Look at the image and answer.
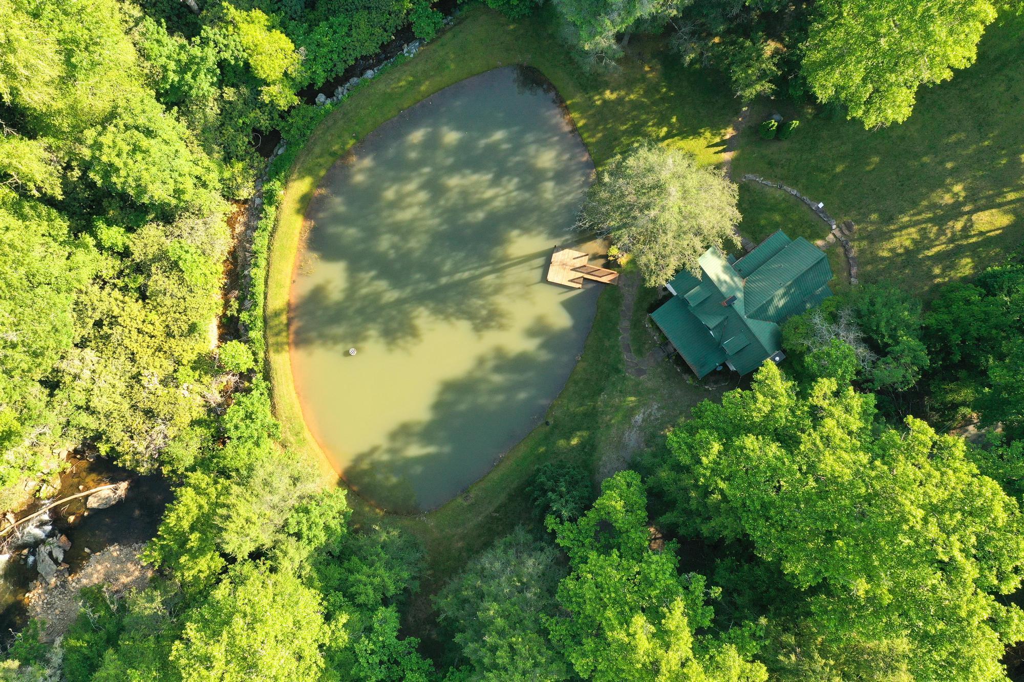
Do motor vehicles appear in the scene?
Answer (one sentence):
No, the picture doesn't show any motor vehicle.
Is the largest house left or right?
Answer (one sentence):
The largest house appears in the right half of the scene.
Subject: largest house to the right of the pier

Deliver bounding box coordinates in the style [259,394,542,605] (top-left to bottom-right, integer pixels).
[648,227,834,403]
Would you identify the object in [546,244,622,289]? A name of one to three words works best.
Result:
pier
